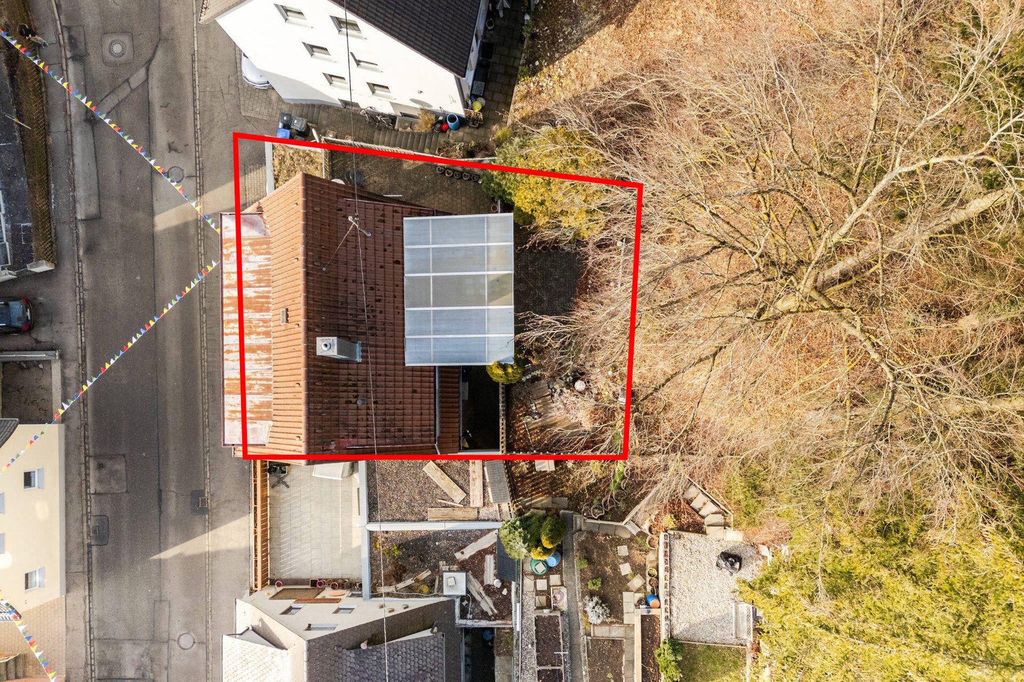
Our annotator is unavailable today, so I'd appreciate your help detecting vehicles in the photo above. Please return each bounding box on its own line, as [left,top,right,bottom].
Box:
[0,297,35,335]
[232,42,273,92]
